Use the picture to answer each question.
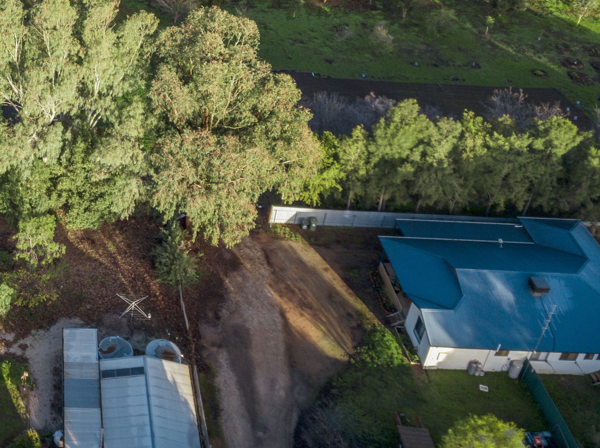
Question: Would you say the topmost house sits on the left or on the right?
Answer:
right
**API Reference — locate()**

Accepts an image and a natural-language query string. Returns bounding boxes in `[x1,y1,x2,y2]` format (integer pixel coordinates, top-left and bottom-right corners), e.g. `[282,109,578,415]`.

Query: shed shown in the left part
[61,327,203,448]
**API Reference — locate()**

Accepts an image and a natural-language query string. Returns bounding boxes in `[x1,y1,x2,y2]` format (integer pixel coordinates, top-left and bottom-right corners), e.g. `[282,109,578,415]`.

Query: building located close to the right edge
[372,216,600,376]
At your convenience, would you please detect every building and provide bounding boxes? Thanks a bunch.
[61,327,203,448]
[382,412,433,448]
[372,216,600,376]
